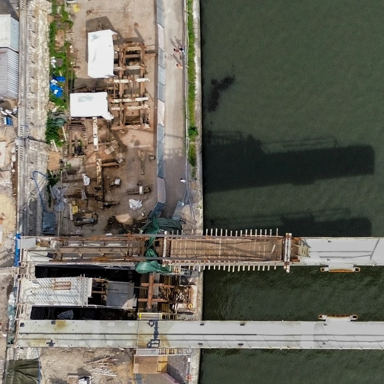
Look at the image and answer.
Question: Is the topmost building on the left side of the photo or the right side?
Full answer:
You can find the topmost building on the left side of the picture.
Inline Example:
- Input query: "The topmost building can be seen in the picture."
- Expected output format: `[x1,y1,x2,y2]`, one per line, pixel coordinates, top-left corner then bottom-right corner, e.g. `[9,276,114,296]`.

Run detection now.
[0,13,26,53]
